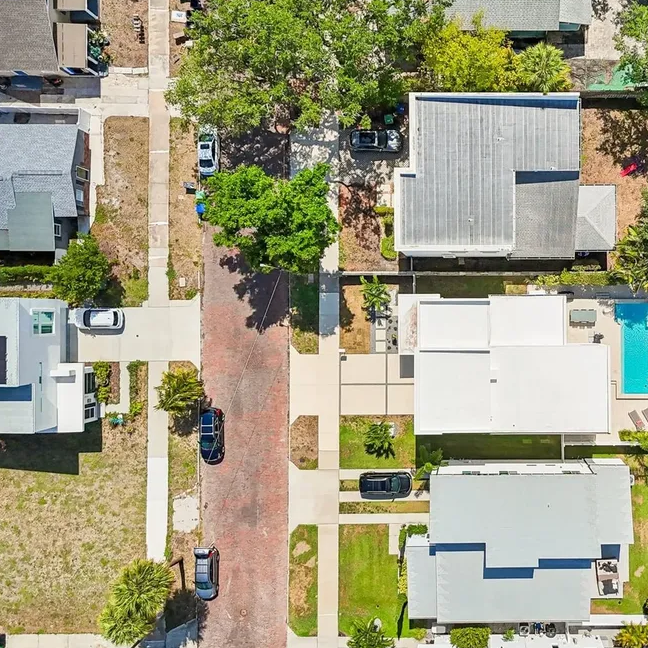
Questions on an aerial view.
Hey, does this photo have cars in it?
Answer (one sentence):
Yes, a car appears in the view.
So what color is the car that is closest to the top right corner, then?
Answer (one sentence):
From above, the car that is closest to the top right corner appears black.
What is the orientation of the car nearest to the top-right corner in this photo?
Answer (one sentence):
I'd say the car nearest to the top-right corner is aligned from left to right in the picture.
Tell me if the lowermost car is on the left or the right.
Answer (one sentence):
It is on the left.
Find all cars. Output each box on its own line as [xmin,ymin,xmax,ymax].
[196,127,222,178]
[80,307,132,333]
[198,408,226,462]
[193,546,221,599]
[359,471,414,499]
[351,128,404,154]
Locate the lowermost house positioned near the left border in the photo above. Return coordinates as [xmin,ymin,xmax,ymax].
[0,299,101,433]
